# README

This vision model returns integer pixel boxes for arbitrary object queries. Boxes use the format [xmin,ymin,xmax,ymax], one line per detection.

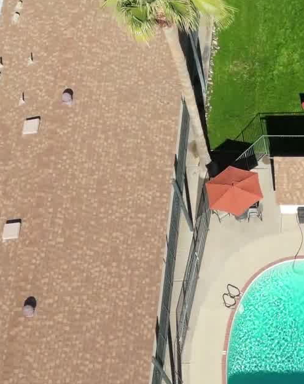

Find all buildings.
[271,155,304,214]
[0,0,210,384]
